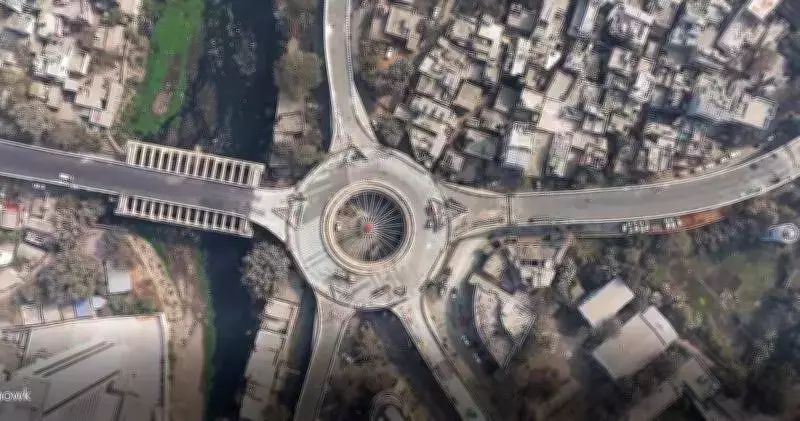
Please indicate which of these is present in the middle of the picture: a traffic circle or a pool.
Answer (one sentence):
The one visible in the middle of the picture is a traffic circle.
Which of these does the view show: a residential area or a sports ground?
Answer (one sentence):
What you see here is a residential area.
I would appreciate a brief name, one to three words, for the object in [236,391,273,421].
shed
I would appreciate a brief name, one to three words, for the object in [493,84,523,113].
house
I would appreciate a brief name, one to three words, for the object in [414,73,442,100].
house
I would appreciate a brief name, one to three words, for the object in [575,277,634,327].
building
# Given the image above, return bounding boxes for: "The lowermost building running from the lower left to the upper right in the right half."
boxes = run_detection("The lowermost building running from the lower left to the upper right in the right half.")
[619,378,685,421]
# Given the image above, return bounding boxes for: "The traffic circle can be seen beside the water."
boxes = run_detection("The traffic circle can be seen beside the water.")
[286,145,450,310]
